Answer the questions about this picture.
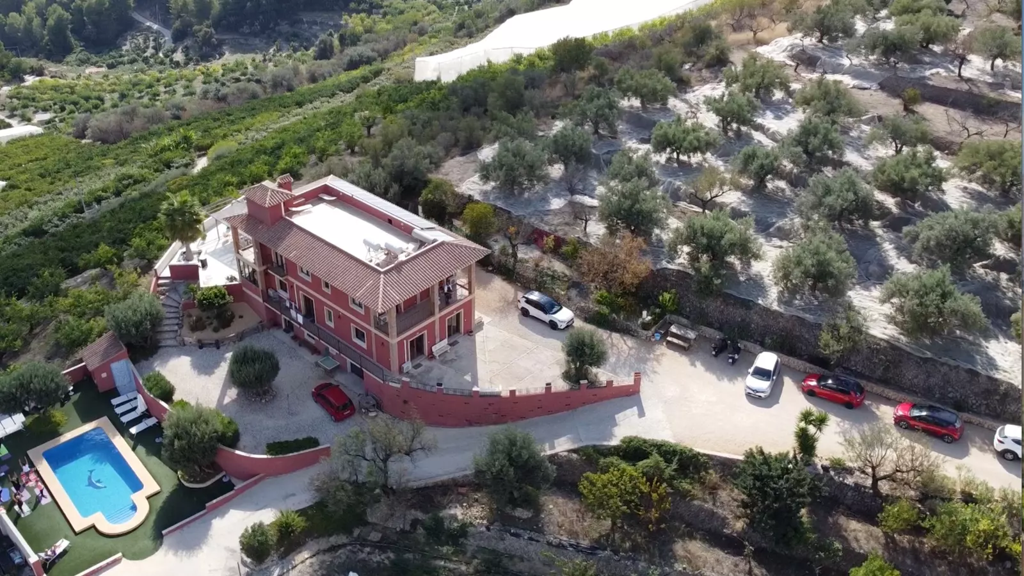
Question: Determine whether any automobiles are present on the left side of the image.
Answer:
Yes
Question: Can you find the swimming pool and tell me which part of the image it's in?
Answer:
bottom left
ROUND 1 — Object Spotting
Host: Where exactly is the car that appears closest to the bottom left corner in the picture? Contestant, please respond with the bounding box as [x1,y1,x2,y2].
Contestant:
[311,382,357,422]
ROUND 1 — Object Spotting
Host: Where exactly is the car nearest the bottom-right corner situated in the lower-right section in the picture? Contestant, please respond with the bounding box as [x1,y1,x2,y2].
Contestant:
[997,420,1024,458]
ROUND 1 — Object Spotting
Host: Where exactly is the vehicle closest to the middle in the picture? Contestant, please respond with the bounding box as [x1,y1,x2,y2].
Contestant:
[517,287,578,329]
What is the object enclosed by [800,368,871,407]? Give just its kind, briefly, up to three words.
car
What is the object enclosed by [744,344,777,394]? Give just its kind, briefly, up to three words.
car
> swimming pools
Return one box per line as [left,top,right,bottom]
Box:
[27,421,159,536]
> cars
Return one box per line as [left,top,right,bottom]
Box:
[890,397,970,440]
[517,287,578,329]
[997,420,1024,458]
[744,344,777,394]
[800,368,871,407]
[311,382,357,422]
